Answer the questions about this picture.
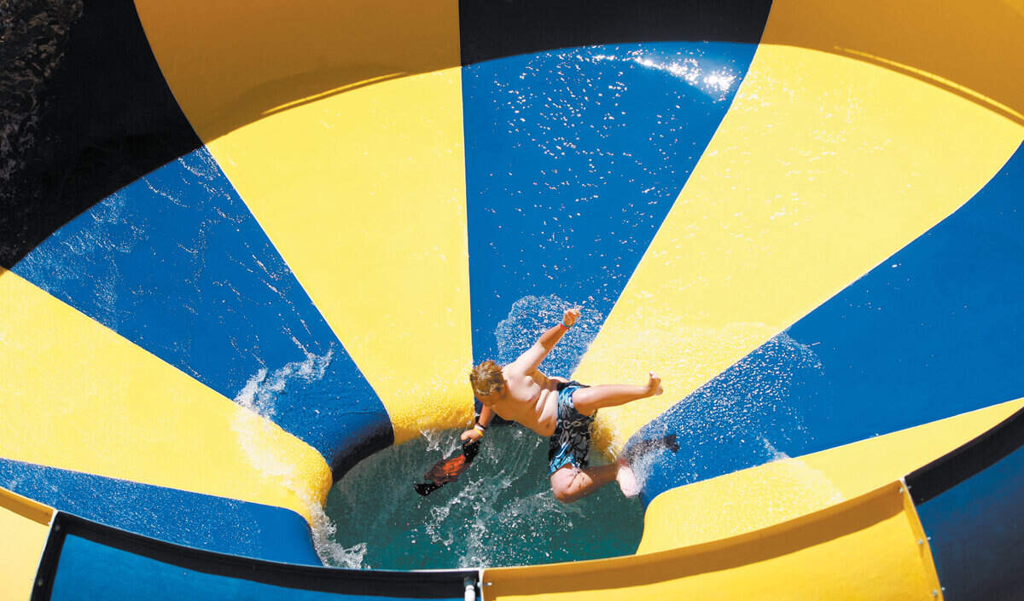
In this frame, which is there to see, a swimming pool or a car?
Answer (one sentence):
Of the two, only a swimming pool appears.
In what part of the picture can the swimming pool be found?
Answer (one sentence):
You can find the swimming pool in the bottom area of the picture.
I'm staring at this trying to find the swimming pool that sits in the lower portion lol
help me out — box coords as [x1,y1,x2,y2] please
[313,429,644,568]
